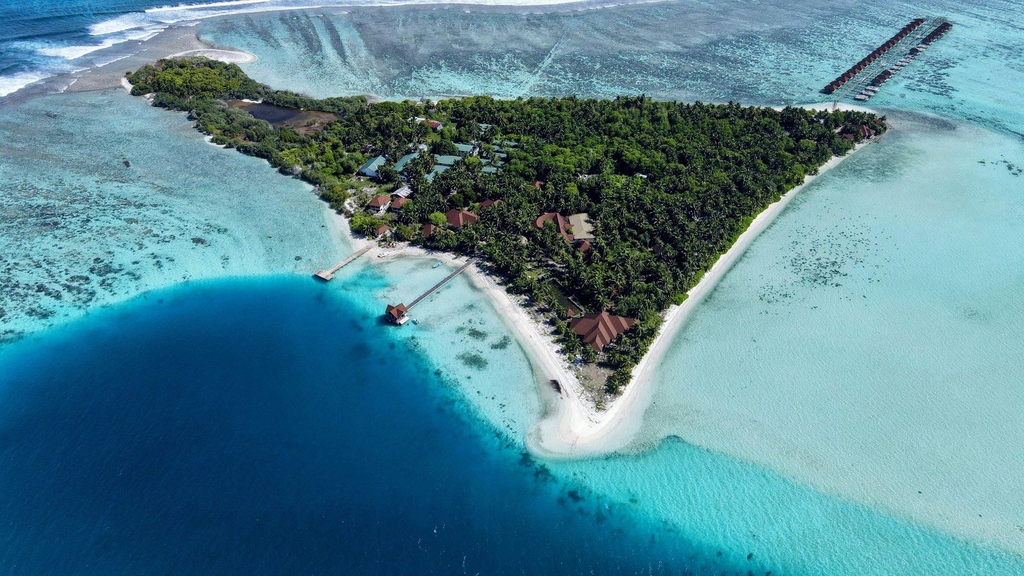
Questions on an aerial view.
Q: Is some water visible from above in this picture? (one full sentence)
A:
Yes, there's water in this view.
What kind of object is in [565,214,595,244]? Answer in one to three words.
building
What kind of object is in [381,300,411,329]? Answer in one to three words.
house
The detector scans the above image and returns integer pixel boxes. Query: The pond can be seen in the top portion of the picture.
[229,99,337,134]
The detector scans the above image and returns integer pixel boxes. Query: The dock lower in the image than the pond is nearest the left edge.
[309,240,378,284]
